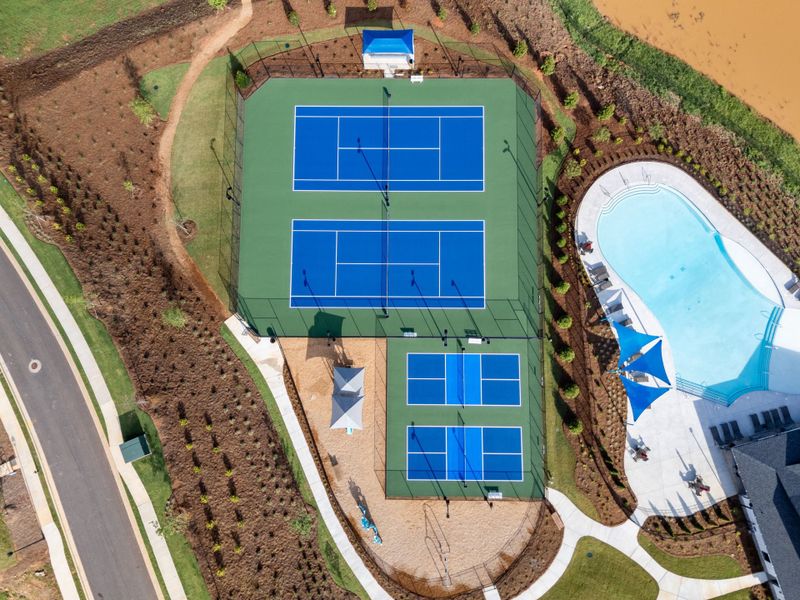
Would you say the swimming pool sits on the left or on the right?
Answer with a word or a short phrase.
right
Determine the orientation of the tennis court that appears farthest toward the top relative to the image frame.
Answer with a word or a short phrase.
horizontally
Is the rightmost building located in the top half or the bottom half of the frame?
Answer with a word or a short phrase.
bottom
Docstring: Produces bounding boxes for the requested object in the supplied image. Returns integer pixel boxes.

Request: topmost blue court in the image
[293,106,484,191]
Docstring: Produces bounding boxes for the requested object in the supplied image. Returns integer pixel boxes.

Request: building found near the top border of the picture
[362,30,415,68]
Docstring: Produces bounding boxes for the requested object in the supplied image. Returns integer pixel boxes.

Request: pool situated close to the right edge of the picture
[596,183,800,407]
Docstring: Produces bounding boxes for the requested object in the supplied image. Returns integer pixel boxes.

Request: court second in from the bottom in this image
[407,353,520,405]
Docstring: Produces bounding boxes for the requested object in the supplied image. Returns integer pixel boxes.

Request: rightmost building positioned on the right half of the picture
[723,423,800,600]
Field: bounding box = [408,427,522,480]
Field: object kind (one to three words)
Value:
sports court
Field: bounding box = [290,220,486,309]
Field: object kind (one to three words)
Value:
tennis court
